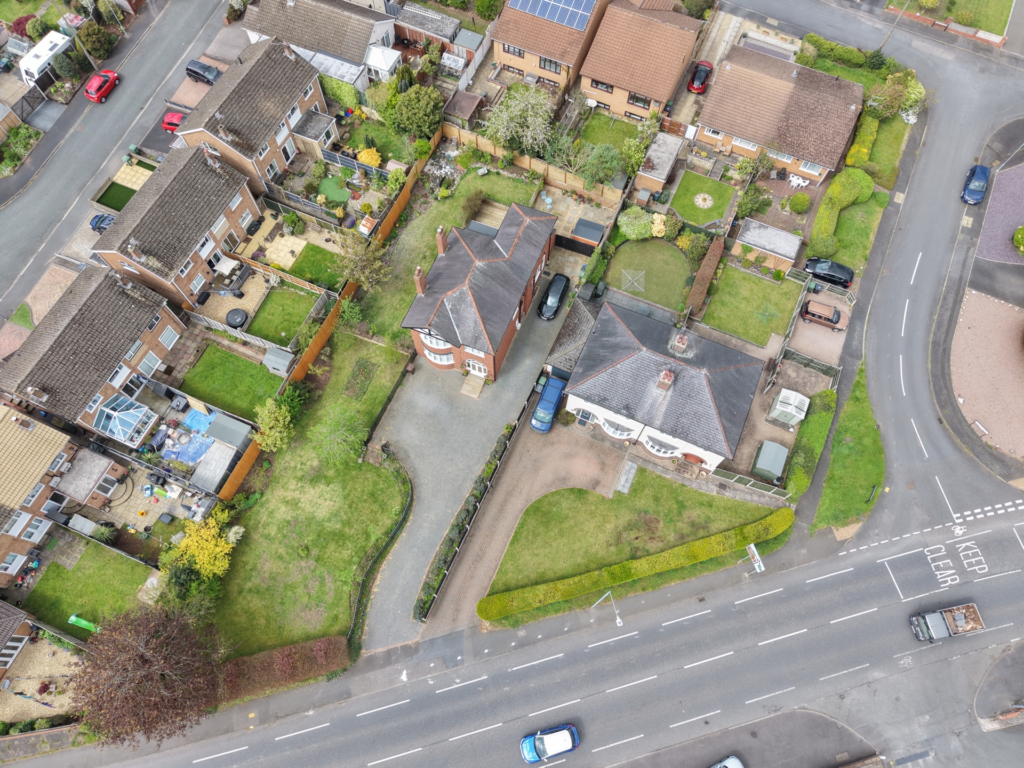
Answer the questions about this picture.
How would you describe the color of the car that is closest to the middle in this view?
blue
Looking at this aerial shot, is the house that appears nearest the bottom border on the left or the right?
left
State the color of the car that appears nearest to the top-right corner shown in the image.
blue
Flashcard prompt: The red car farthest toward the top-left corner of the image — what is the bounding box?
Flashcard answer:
[85,72,122,102]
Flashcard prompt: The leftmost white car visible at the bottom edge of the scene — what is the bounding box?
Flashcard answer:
[519,723,580,763]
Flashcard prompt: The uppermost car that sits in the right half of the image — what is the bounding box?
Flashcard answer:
[688,63,714,95]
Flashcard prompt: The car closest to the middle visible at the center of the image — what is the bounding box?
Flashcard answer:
[532,375,566,430]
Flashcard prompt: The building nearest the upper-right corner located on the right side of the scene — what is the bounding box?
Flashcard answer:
[696,43,882,185]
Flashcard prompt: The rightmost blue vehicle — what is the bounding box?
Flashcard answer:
[960,163,993,204]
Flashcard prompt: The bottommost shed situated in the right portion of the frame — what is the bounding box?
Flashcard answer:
[750,441,787,482]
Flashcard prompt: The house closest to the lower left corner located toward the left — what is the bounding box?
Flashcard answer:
[0,595,42,680]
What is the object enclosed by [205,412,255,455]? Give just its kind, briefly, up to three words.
shed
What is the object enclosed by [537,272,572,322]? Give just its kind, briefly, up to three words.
car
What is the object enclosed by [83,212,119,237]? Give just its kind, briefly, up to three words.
car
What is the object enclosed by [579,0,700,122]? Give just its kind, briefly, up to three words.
house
